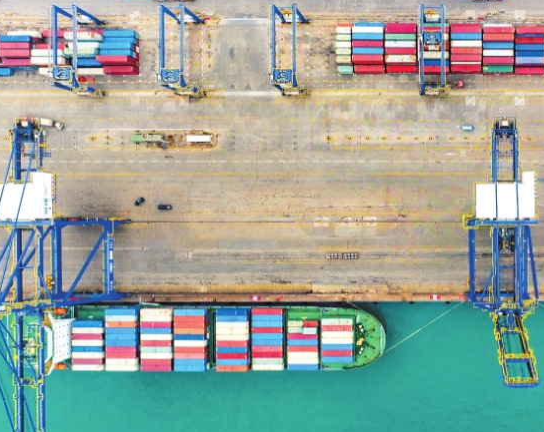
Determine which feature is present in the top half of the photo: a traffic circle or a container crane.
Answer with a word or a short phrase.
container crane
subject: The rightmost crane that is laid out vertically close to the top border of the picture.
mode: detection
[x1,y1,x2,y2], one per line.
[414,4,454,96]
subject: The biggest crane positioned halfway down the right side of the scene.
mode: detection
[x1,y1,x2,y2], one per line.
[461,121,538,390]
